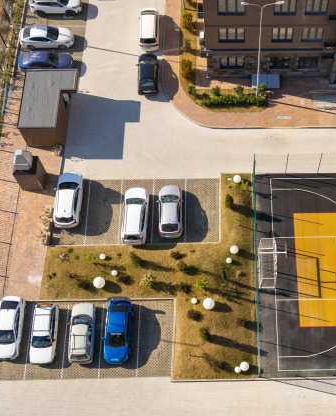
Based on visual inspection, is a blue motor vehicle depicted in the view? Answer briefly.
Yes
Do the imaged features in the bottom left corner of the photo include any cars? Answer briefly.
Yes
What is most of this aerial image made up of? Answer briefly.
paved ground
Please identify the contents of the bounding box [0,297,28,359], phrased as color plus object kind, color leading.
white car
